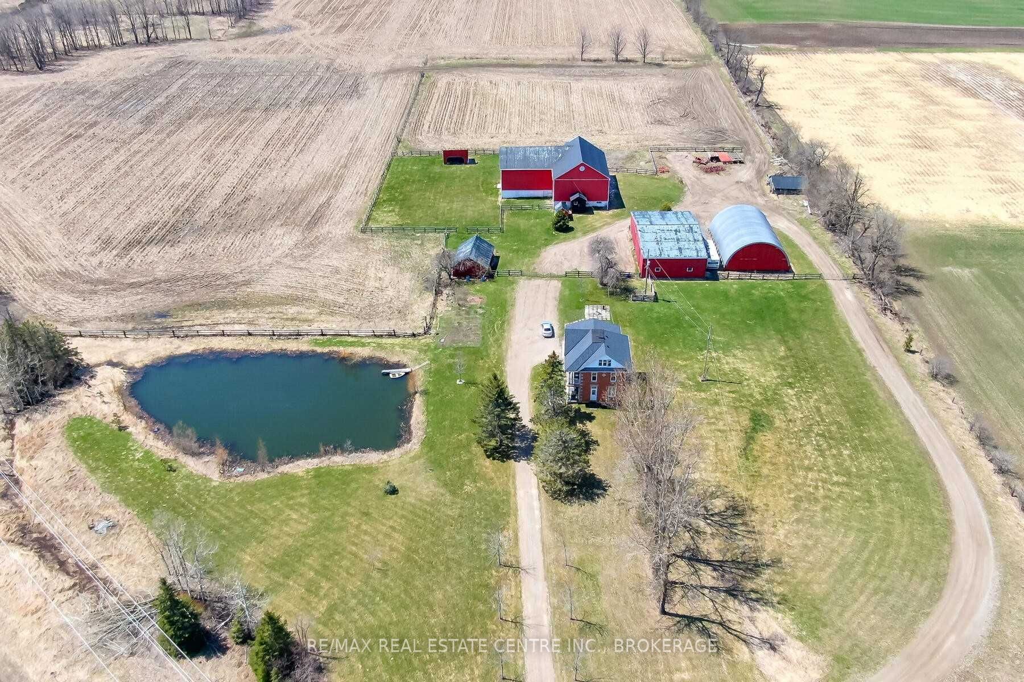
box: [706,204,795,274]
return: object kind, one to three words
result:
shed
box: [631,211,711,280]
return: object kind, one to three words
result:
shed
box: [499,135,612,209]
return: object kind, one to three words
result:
barn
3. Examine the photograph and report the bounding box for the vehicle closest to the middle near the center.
[542,322,554,336]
